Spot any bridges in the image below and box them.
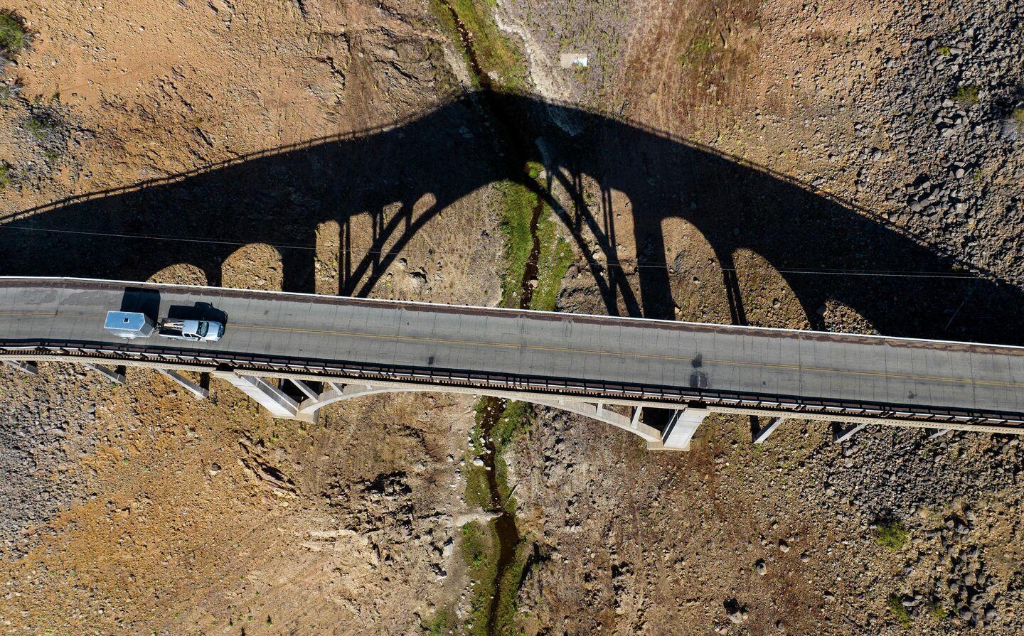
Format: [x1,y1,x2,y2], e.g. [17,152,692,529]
[0,275,1024,451]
